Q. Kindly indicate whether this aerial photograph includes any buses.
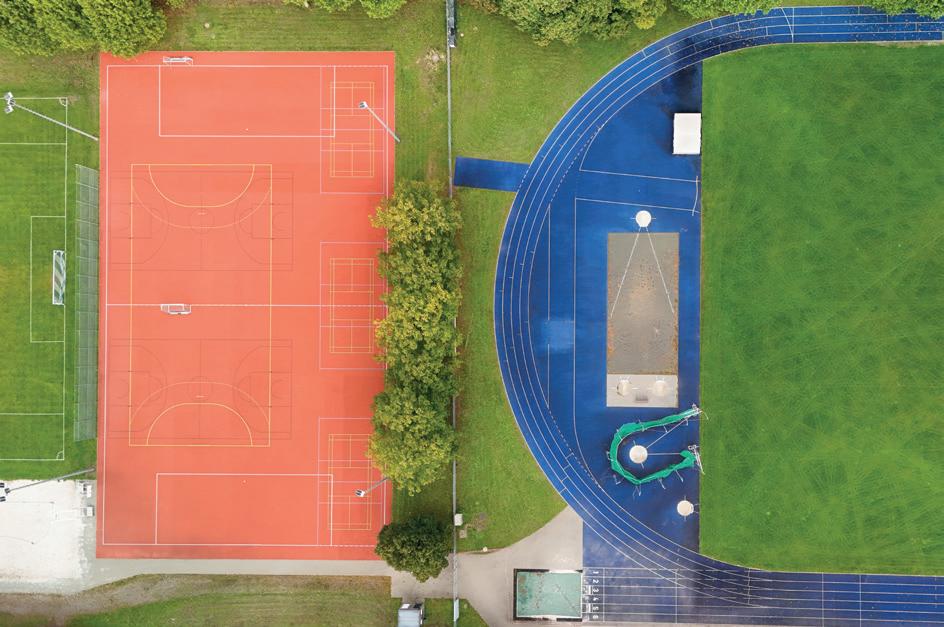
No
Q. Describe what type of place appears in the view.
sports ground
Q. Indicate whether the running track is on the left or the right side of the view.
right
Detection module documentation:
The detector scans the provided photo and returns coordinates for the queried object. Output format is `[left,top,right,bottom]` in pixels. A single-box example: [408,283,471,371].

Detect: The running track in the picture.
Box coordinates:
[493,6,944,627]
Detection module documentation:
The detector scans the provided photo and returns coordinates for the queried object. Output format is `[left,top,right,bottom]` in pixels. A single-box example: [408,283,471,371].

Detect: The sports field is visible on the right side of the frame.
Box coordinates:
[700,41,944,576]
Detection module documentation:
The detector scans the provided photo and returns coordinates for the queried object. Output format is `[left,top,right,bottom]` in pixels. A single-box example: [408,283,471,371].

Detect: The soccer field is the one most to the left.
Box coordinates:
[0,96,68,462]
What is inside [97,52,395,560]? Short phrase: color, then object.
red sports court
